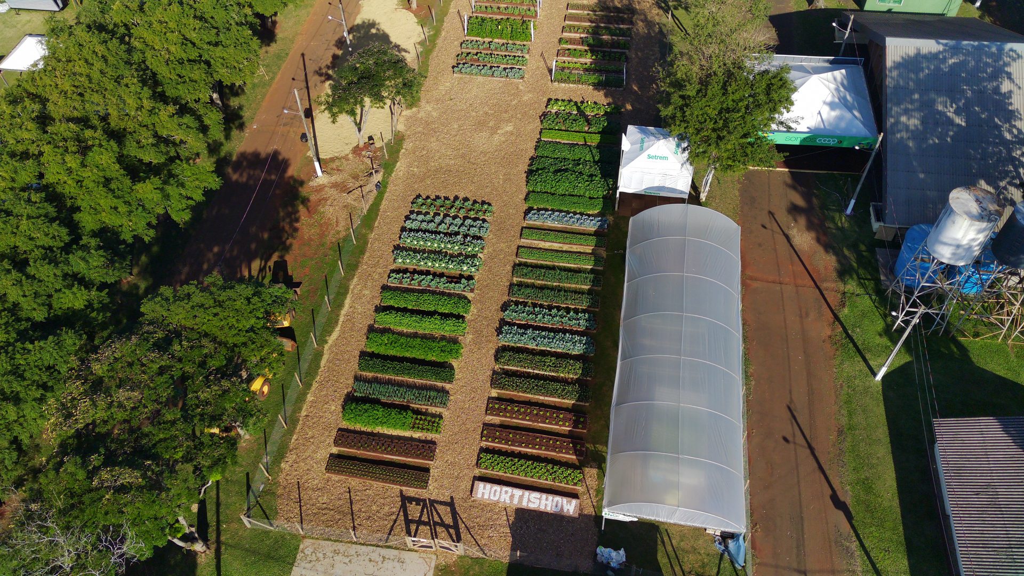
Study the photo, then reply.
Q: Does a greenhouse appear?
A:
Yes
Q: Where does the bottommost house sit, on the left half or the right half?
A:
right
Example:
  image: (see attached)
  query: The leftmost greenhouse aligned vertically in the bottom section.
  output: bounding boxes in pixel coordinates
[600,202,746,537]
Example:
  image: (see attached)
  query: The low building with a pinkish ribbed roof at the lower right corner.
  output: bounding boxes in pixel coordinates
[924,419,1024,576]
